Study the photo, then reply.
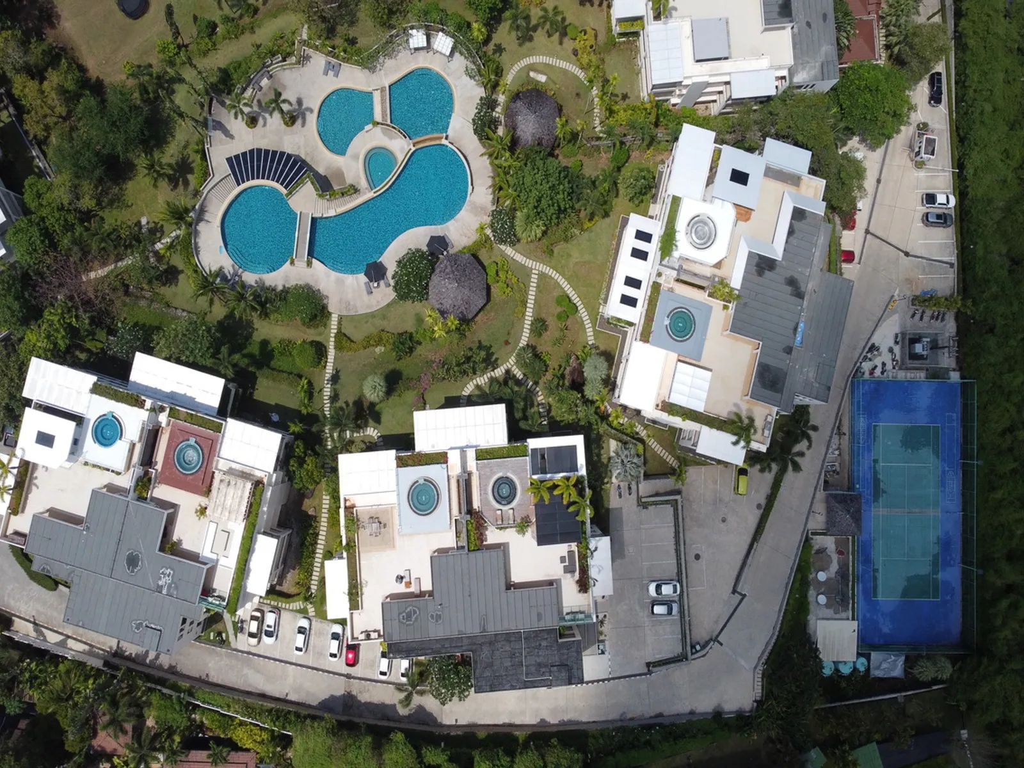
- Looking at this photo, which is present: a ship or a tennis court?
tennis court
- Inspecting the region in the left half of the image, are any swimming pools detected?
Yes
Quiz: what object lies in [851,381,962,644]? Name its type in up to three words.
tennis court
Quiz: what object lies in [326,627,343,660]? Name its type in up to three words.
car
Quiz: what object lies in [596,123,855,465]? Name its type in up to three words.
building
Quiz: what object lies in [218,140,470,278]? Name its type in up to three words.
swimming pool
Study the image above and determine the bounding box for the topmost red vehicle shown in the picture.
[832,214,859,229]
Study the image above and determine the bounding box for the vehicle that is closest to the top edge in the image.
[929,67,948,106]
